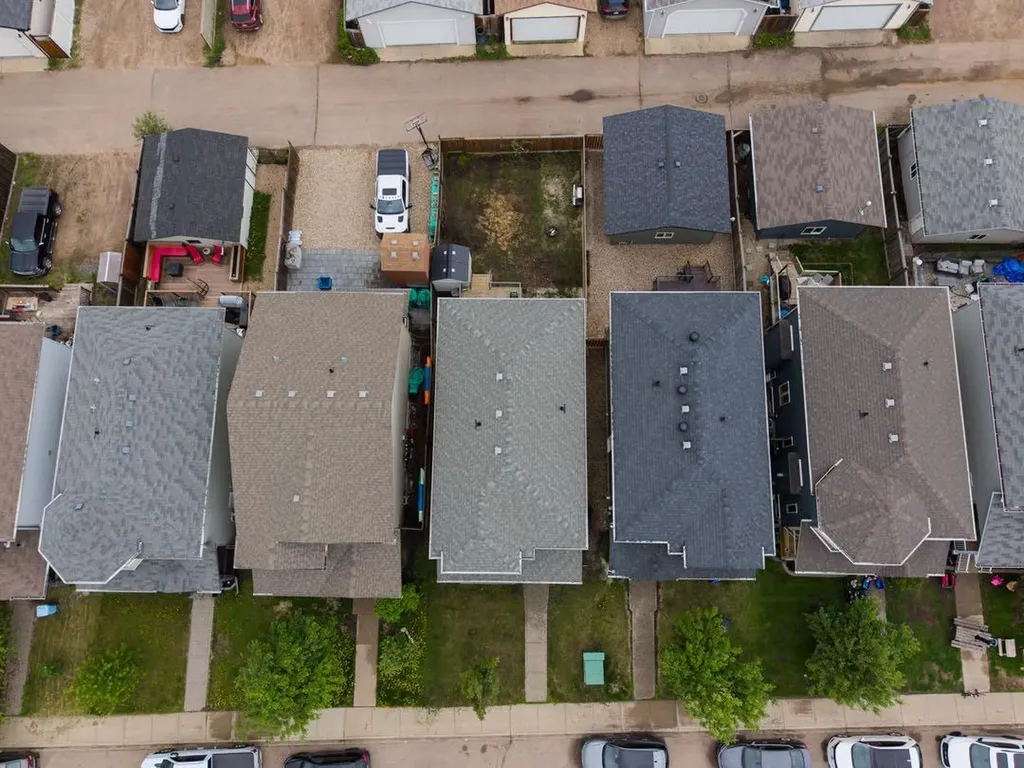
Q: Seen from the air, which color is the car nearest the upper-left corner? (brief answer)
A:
white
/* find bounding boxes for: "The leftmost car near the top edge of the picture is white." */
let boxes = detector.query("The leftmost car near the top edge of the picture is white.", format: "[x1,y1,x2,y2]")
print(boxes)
[148,0,185,33]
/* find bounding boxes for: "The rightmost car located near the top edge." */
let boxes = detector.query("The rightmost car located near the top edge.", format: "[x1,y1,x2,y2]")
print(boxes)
[600,0,628,20]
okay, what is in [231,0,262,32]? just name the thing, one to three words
car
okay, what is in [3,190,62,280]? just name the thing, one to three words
truck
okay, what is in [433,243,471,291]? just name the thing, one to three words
shed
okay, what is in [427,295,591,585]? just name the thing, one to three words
house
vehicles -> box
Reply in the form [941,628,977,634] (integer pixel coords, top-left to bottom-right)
[939,730,1024,768]
[3,190,62,280]
[600,0,628,20]
[369,150,413,241]
[0,747,46,768]
[715,737,807,768]
[285,748,370,768]
[583,734,666,768]
[148,0,185,33]
[825,731,918,768]
[231,0,262,32]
